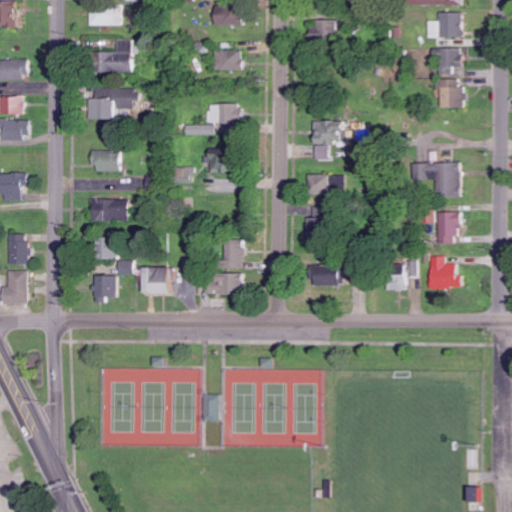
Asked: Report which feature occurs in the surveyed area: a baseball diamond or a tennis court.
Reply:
tennis court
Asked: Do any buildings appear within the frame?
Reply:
Yes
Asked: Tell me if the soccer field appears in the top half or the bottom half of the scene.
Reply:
bottom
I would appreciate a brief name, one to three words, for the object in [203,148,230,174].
house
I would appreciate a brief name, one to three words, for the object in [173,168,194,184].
building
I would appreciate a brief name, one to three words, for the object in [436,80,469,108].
house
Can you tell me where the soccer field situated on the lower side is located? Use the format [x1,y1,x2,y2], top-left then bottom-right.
[334,373,479,512]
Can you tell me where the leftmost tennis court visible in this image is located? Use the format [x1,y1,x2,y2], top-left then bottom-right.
[103,368,139,446]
